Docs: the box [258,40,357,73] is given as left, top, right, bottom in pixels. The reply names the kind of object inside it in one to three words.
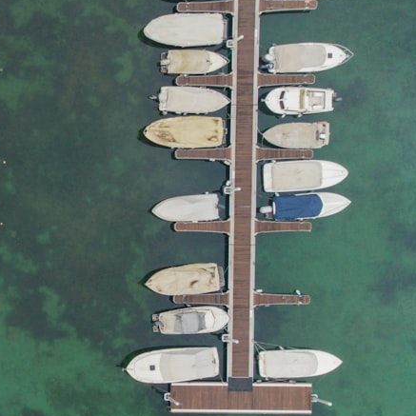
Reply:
boat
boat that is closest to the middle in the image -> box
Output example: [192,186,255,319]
[152,191,220,223]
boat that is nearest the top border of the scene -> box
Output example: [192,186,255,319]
[143,12,227,47]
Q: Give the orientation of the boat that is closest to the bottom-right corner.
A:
from side to side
